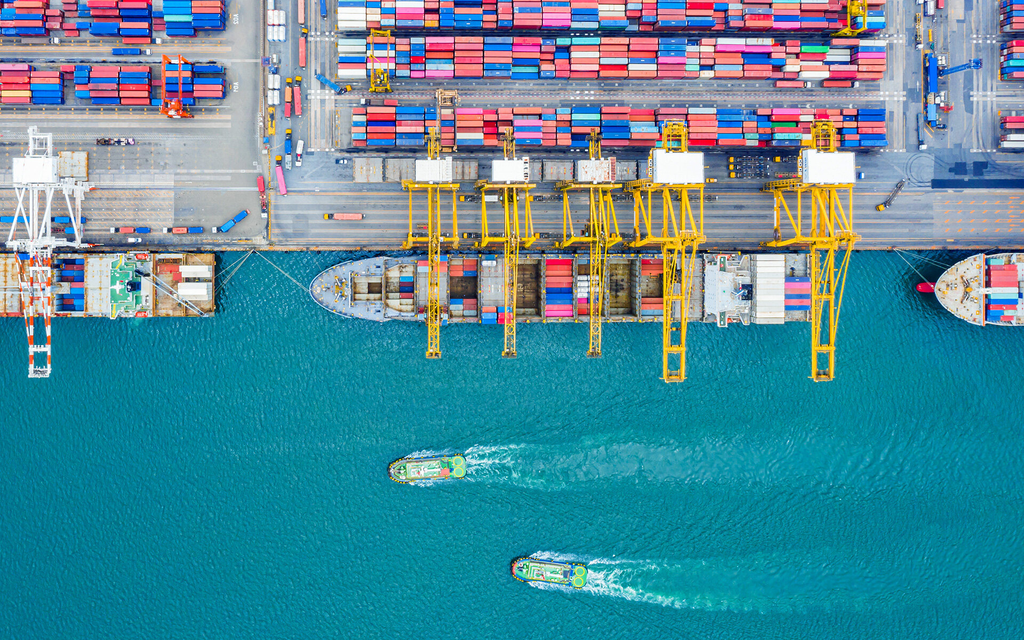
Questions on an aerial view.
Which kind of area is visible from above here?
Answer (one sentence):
What you see here is a port.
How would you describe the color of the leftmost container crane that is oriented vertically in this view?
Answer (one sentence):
The leftmost container crane that is oriented vertically is white.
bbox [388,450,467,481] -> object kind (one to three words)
boat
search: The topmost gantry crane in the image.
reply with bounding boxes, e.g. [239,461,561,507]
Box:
[828,0,869,37]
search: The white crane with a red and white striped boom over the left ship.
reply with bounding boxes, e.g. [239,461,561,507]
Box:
[5,125,97,377]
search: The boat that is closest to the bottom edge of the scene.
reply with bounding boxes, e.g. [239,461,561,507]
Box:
[510,555,588,588]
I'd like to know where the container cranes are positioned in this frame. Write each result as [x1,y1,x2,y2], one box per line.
[620,123,705,380]
[366,24,395,94]
[754,122,863,379]
[471,126,539,359]
[550,126,625,359]
[398,126,464,360]
[828,0,869,37]
[5,125,97,377]
[162,53,196,121]
[431,93,460,157]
